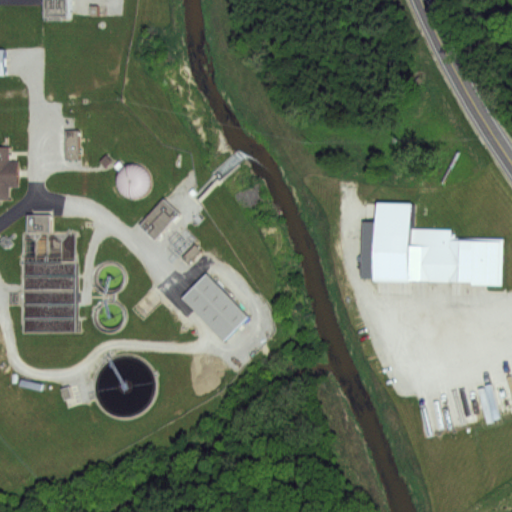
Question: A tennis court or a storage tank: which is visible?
storage tank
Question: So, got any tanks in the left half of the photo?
Yes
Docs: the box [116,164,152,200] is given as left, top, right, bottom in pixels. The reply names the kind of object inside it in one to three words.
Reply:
storage tank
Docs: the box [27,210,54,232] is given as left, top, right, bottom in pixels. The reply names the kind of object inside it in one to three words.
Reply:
building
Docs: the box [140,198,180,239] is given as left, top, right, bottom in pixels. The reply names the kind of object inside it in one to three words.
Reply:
building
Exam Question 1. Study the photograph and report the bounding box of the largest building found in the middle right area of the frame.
[372,202,504,287]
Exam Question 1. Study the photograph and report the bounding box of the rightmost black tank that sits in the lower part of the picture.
[94,351,160,418]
